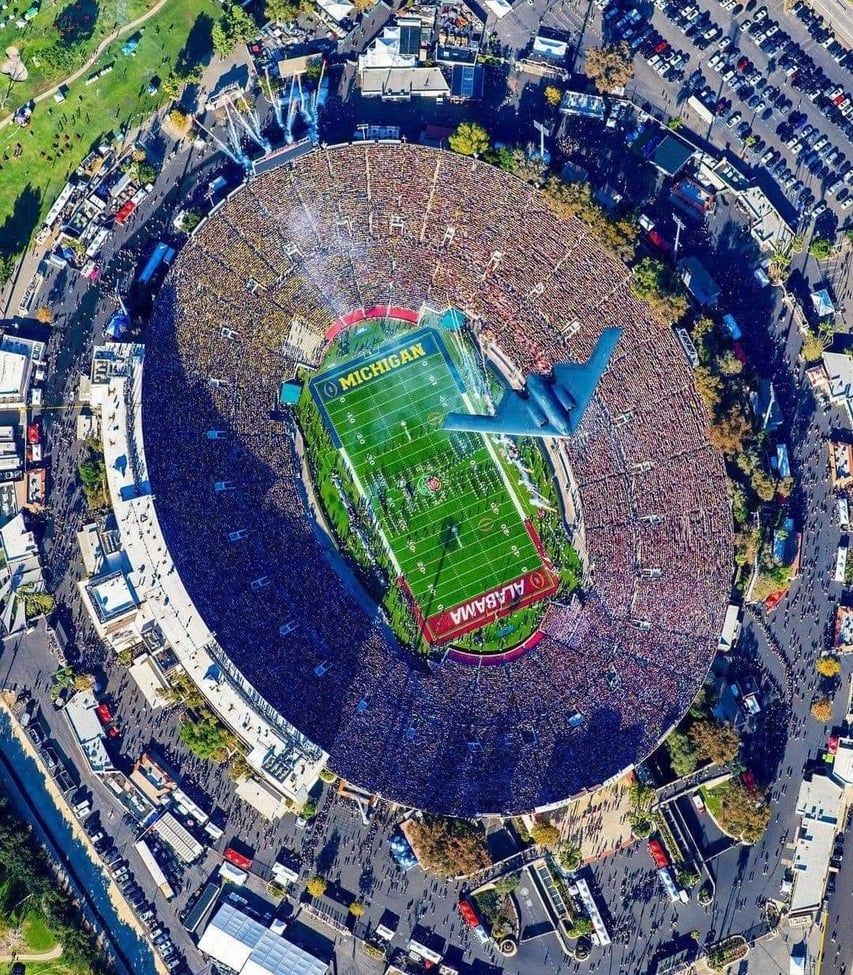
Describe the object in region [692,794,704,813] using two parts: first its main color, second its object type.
white vehicle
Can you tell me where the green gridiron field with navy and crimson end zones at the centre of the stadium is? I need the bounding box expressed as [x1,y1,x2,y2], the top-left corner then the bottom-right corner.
[308,327,560,646]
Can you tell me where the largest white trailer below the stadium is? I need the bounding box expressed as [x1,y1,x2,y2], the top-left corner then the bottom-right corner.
[135,841,175,900]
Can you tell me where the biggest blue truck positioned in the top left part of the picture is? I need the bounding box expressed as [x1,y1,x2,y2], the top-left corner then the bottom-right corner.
[139,243,169,286]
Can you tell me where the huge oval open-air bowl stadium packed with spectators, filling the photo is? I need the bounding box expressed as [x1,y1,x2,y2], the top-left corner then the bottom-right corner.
[91,139,734,822]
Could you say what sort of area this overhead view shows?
sports ground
